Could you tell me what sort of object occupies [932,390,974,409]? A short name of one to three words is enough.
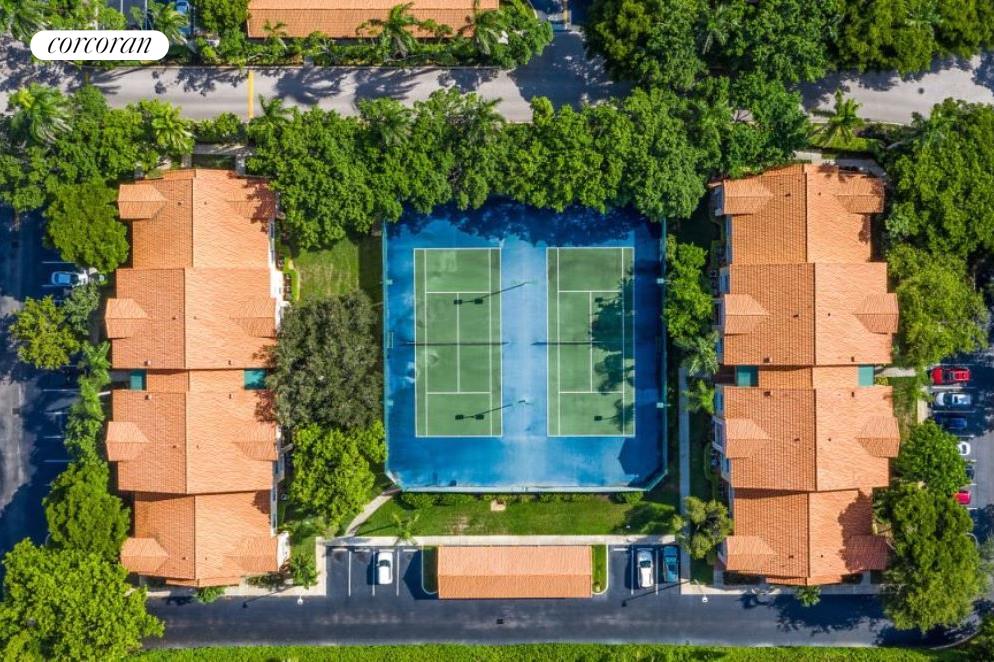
car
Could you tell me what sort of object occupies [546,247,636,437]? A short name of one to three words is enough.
tennis court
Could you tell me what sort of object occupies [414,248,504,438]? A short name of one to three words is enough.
tennis court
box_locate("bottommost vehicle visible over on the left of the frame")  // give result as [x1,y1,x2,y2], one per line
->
[376,548,394,584]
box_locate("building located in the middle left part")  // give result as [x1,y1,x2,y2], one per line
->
[105,170,294,587]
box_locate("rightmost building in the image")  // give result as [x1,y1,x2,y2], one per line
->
[708,159,900,586]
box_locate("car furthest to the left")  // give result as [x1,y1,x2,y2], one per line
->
[52,271,91,289]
